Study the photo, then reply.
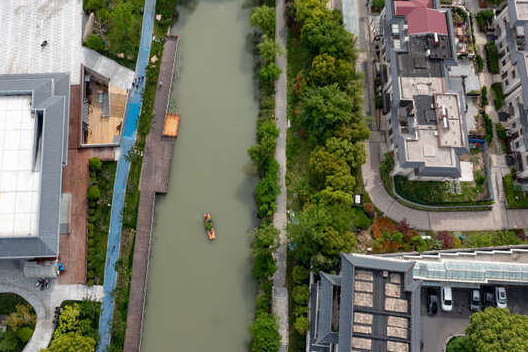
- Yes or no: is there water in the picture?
Yes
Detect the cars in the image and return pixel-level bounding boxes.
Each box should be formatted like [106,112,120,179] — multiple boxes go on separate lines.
[441,284,456,311]
[471,286,485,312]
[496,283,511,310]
[427,289,441,317]
[483,284,498,312]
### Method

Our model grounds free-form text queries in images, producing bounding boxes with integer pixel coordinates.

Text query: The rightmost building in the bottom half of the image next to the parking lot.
[315,251,422,352]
